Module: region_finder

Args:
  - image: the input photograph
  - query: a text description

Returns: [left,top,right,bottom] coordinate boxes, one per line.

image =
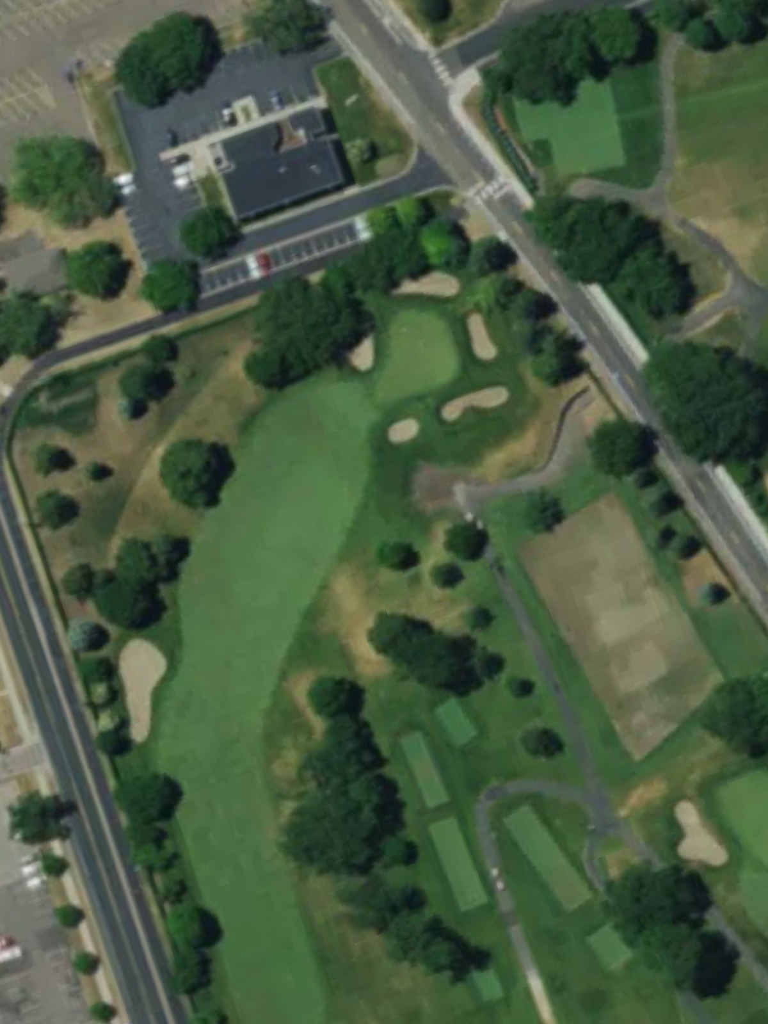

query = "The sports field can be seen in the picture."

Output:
[517,493,723,760]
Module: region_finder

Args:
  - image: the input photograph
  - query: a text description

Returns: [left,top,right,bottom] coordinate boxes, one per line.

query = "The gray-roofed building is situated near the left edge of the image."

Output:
[0,228,68,302]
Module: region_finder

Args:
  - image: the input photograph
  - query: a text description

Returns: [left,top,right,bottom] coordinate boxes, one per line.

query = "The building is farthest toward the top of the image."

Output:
[208,105,343,217]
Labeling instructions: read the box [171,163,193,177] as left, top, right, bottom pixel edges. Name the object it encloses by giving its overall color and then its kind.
white vehicle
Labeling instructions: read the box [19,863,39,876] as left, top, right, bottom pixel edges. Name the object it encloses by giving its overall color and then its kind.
white vehicle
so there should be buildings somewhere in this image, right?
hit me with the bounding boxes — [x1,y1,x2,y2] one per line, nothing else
[208,105,343,217]
[0,228,68,302]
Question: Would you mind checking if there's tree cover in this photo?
Yes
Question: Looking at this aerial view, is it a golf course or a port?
golf course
